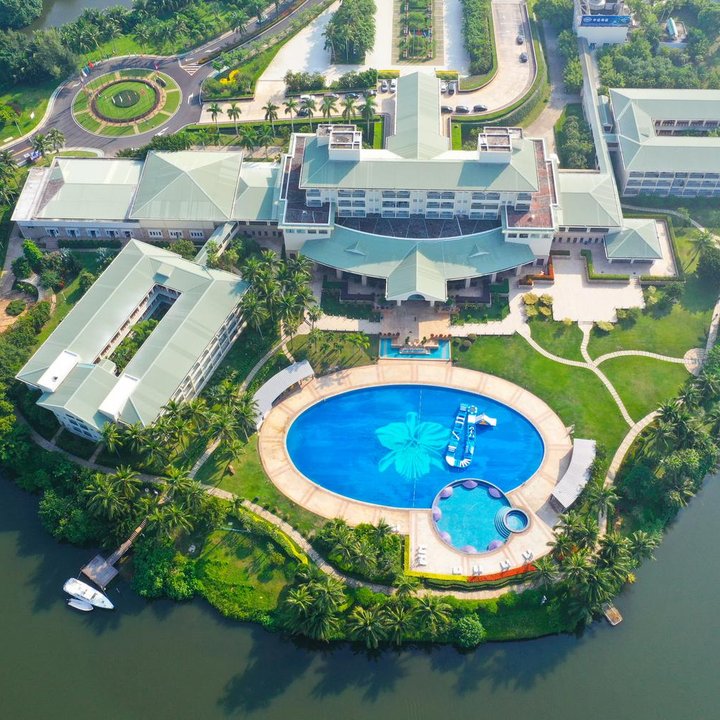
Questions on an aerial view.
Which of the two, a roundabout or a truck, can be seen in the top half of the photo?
roundabout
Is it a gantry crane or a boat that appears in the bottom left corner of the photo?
boat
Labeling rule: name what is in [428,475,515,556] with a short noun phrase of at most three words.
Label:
swimming pool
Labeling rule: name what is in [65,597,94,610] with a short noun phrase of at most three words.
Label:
boat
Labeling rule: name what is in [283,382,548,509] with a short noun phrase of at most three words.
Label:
swimming pool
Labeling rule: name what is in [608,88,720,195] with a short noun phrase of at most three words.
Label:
building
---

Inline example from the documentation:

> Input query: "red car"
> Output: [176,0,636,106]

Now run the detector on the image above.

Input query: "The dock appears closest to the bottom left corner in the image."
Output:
[79,516,149,588]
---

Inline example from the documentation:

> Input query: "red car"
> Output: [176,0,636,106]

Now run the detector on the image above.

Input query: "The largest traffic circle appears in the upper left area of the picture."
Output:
[71,68,181,137]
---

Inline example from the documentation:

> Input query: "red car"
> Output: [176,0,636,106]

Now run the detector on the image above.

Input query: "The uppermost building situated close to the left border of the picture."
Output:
[11,150,243,240]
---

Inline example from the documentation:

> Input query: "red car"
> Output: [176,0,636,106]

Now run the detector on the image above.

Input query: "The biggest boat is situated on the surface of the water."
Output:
[62,575,113,608]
